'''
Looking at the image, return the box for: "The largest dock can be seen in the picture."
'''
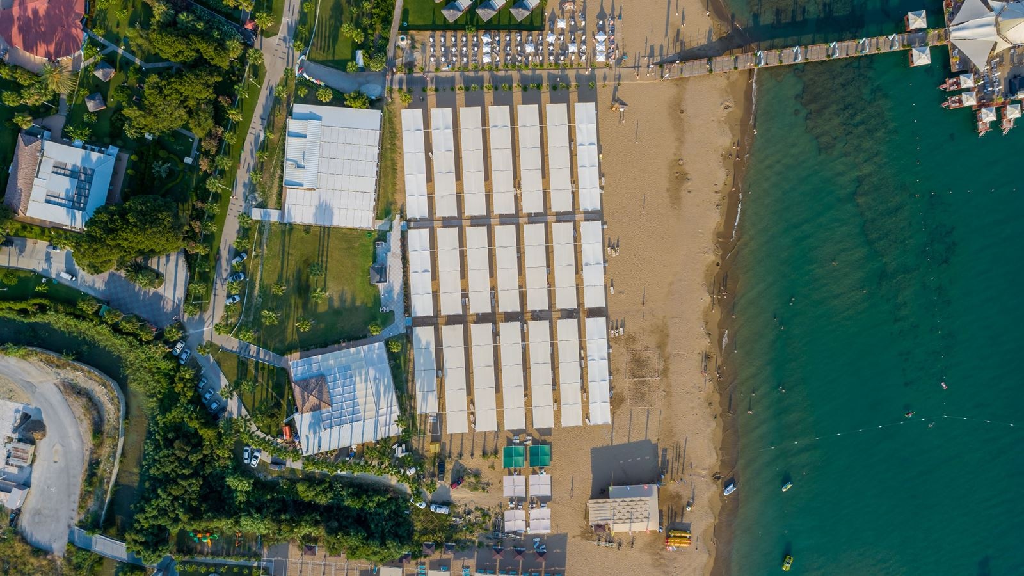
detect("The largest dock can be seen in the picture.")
[655,28,948,80]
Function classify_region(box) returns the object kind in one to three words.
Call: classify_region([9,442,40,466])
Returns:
shed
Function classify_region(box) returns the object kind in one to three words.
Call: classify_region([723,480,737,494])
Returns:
boat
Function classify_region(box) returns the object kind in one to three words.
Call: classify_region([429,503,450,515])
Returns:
vehicle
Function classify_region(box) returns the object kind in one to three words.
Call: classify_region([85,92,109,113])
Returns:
gazebo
